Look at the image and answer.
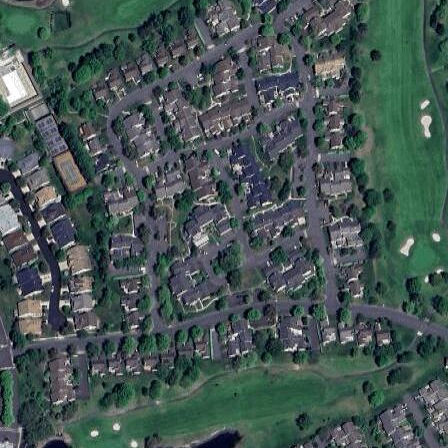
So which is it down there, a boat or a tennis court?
tennis court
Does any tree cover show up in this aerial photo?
Yes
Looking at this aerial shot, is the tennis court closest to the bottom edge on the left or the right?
left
